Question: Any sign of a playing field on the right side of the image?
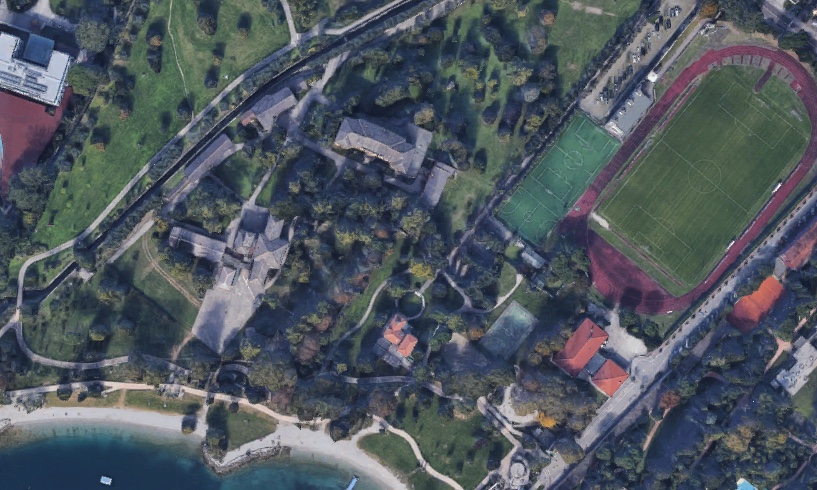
Yes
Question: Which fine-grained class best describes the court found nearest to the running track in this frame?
tennis court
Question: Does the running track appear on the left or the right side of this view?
right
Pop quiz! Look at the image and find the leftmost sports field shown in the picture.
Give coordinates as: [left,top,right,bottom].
[498,112,622,246]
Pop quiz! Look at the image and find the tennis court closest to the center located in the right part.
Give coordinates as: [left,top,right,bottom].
[480,301,538,359]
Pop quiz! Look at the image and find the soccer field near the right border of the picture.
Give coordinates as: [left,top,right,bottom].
[590,66,815,296]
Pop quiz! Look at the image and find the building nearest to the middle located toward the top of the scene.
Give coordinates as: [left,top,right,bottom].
[420,163,457,208]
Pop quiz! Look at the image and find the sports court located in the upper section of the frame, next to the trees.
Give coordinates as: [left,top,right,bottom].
[0,86,74,197]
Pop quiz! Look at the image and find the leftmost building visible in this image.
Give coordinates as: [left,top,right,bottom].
[0,33,74,105]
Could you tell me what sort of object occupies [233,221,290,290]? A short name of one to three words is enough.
building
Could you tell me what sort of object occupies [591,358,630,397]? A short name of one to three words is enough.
house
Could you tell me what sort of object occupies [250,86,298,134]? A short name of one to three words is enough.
house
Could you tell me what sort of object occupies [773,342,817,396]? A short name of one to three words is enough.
building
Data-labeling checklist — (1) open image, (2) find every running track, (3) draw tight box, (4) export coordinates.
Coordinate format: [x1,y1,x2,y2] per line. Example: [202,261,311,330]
[558,42,817,314]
